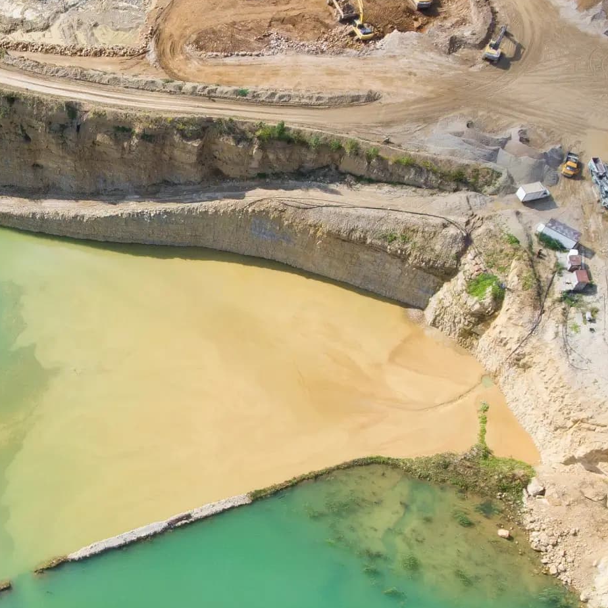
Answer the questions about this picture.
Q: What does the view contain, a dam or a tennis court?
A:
dam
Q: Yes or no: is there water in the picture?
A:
Yes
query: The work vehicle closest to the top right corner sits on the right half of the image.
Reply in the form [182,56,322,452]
[483,6,514,62]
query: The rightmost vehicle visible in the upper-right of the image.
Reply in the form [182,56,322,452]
[563,147,583,183]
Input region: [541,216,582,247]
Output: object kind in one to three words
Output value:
shed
